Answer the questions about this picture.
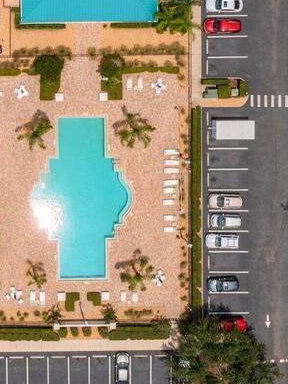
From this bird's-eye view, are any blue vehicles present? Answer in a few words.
No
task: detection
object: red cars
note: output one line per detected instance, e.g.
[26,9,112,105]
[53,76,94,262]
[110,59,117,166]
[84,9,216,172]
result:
[215,315,250,332]
[203,18,241,34]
